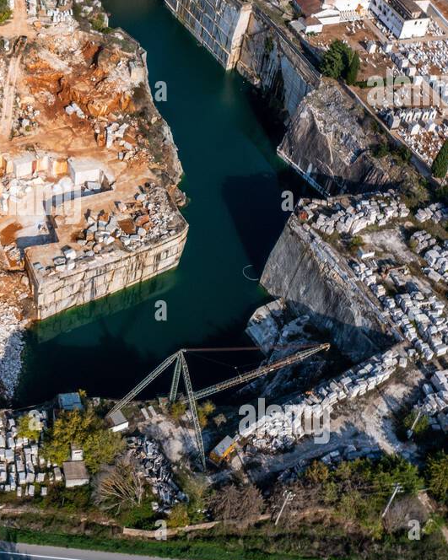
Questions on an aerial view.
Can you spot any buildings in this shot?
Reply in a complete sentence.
Yes, the picture does show a building.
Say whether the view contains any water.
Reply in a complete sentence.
Yes, there is water in the image.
